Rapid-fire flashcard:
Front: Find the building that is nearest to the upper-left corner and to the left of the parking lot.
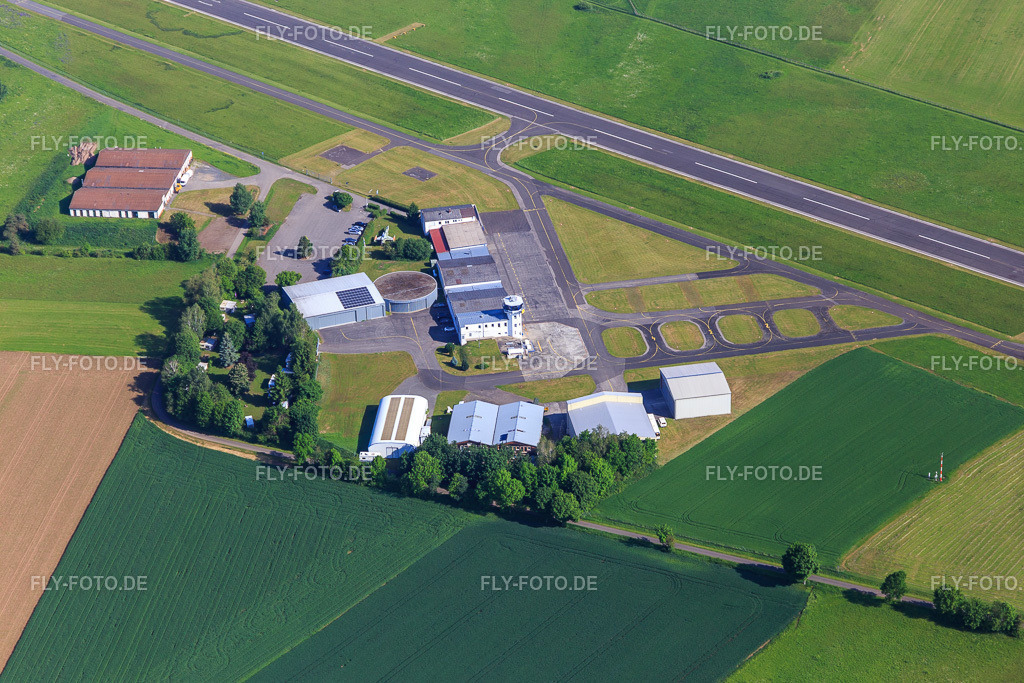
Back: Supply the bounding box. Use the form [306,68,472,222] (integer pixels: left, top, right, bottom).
[69,148,190,218]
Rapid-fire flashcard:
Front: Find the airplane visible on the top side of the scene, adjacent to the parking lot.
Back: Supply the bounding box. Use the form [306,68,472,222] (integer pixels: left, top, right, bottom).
[370,225,398,243]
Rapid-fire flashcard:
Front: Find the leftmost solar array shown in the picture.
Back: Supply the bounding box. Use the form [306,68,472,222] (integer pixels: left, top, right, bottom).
[336,287,373,309]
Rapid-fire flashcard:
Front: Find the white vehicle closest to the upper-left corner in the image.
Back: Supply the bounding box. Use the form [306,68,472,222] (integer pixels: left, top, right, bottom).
[180,170,193,187]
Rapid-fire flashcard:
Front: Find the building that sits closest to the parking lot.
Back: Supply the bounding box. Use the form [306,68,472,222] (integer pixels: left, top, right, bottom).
[285,272,386,329]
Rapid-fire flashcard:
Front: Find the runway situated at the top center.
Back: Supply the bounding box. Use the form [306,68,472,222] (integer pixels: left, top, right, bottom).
[161,0,1024,289]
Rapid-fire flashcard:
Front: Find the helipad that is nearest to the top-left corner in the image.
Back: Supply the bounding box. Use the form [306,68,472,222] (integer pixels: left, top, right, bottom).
[321,145,367,165]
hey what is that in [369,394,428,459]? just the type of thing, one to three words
hangar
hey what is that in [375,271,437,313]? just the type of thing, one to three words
hangar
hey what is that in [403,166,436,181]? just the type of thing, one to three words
helipad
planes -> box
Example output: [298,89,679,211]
[441,406,453,414]
[370,225,398,243]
